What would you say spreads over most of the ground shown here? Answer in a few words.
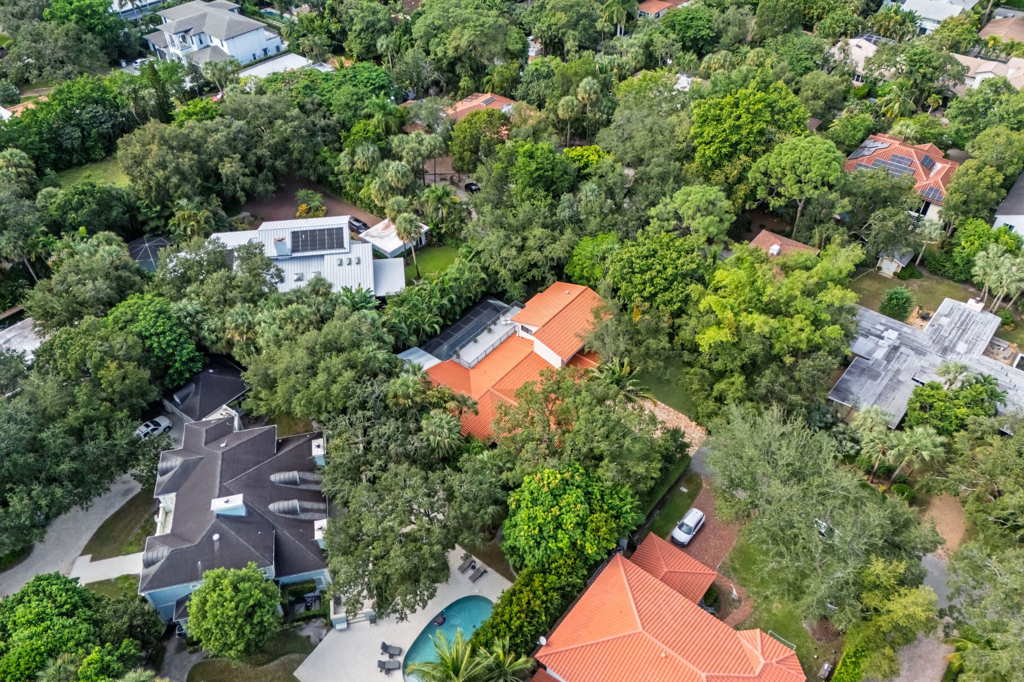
trees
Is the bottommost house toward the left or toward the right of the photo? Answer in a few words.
right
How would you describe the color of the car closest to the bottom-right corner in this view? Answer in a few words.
white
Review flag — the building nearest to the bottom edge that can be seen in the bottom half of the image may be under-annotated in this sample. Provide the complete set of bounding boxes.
[528,531,808,682]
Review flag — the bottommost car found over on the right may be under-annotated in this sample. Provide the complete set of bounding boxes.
[669,505,708,550]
